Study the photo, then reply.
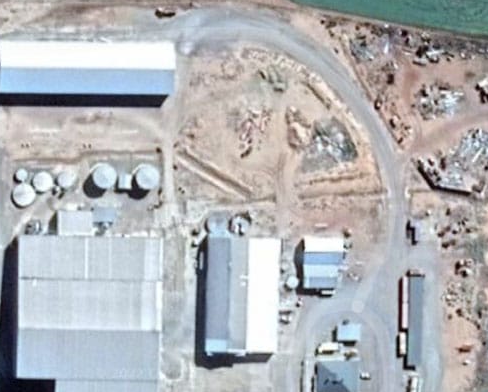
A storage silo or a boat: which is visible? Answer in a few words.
storage silo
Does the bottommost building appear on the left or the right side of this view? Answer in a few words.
right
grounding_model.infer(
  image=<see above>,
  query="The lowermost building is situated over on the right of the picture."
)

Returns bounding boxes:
[316,361,358,392]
